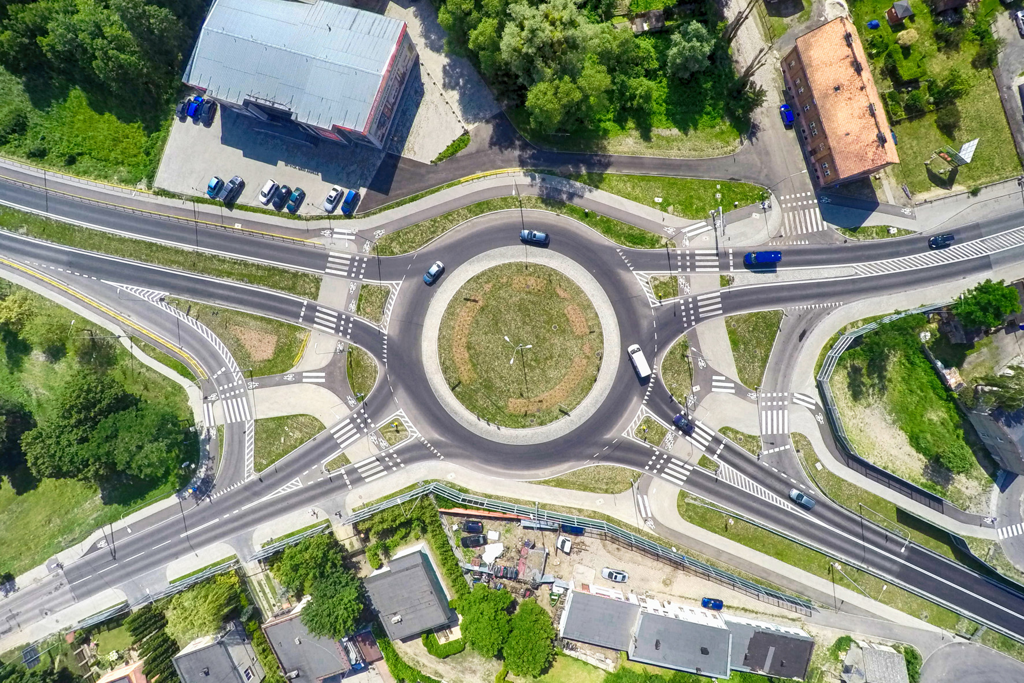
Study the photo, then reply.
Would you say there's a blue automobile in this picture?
Yes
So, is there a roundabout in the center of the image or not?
Yes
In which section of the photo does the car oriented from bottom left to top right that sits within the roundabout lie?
center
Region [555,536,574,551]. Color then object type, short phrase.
white car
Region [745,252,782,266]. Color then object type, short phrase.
blue vehicle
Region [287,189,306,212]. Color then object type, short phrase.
blue car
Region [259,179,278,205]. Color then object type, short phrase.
white car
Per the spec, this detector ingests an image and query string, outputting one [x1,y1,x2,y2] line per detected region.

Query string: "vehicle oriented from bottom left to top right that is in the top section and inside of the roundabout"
[423,259,446,286]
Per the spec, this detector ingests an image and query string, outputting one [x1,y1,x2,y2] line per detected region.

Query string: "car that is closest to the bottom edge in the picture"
[699,596,723,611]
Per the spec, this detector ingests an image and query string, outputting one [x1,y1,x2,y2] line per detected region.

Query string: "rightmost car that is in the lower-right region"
[786,487,818,510]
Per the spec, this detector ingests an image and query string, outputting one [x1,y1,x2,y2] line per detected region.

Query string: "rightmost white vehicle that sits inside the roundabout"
[629,345,651,378]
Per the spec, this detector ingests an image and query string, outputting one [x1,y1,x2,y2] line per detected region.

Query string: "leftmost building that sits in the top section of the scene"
[180,0,421,165]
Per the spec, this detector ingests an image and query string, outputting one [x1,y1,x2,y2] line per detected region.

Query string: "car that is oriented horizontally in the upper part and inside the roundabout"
[520,230,550,245]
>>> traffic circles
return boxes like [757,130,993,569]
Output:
[391,212,655,477]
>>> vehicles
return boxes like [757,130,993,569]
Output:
[423,259,446,286]
[174,95,190,122]
[460,520,484,533]
[259,179,278,205]
[629,345,651,378]
[273,184,293,212]
[207,175,225,198]
[786,487,818,510]
[745,252,782,266]
[699,596,723,611]
[341,188,360,214]
[520,230,550,245]
[600,566,629,582]
[461,533,489,548]
[555,536,574,551]
[186,95,204,122]
[670,411,698,437]
[324,184,344,213]
[199,97,218,127]
[923,233,958,249]
[560,521,586,535]
[287,189,306,212]
[220,174,244,205]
